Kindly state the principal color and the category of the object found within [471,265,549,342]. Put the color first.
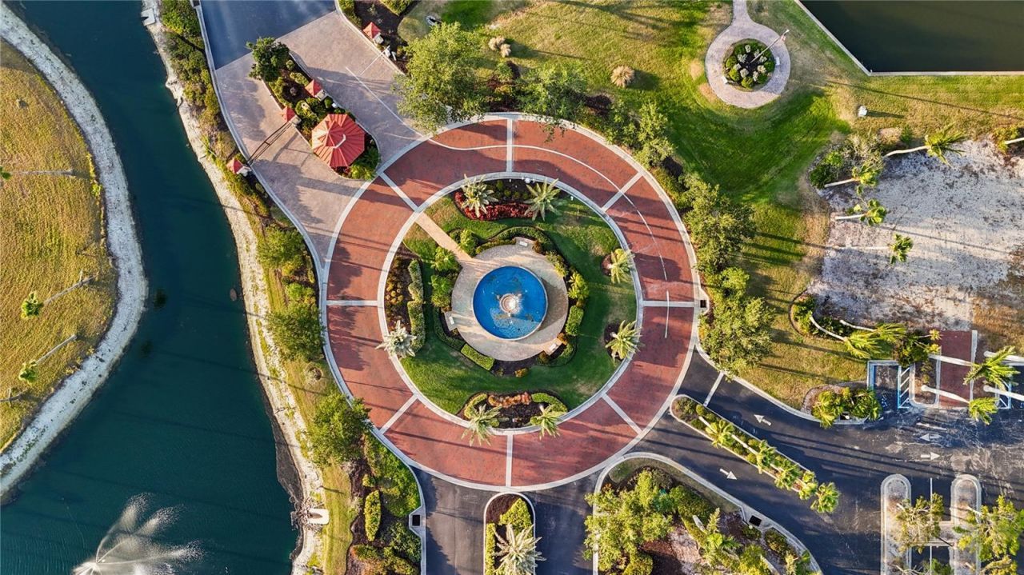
blue fountain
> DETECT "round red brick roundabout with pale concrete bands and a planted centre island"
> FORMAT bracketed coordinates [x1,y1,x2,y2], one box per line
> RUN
[319,111,703,487]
